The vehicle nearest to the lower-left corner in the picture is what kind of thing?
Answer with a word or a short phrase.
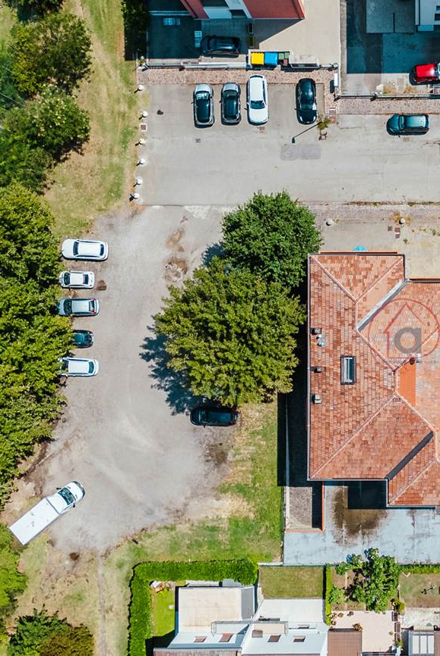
truck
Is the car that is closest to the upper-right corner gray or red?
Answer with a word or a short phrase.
red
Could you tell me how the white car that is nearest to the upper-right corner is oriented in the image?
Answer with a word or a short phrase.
up and down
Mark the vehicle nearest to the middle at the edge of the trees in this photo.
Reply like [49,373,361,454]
[191,406,237,427]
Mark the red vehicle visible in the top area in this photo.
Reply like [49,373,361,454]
[412,60,440,84]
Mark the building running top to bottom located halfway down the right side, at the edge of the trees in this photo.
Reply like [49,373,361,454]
[308,250,440,509]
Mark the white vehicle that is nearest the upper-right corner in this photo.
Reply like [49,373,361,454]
[245,76,268,124]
